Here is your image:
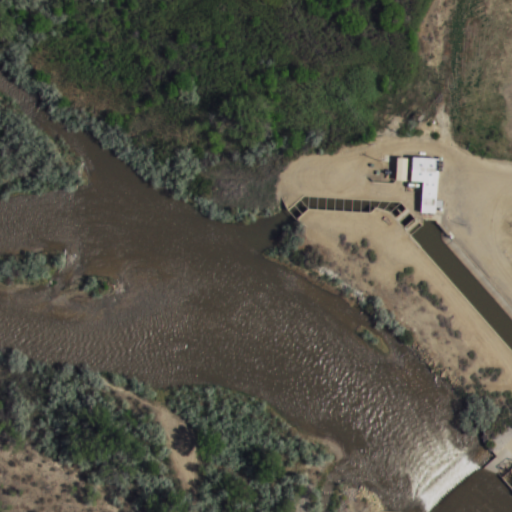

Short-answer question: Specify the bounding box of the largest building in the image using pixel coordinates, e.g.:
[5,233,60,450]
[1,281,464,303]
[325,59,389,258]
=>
[412,156,441,214]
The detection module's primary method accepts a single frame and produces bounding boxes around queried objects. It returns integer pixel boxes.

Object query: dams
[416,454,480,512]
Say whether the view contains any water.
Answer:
Yes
